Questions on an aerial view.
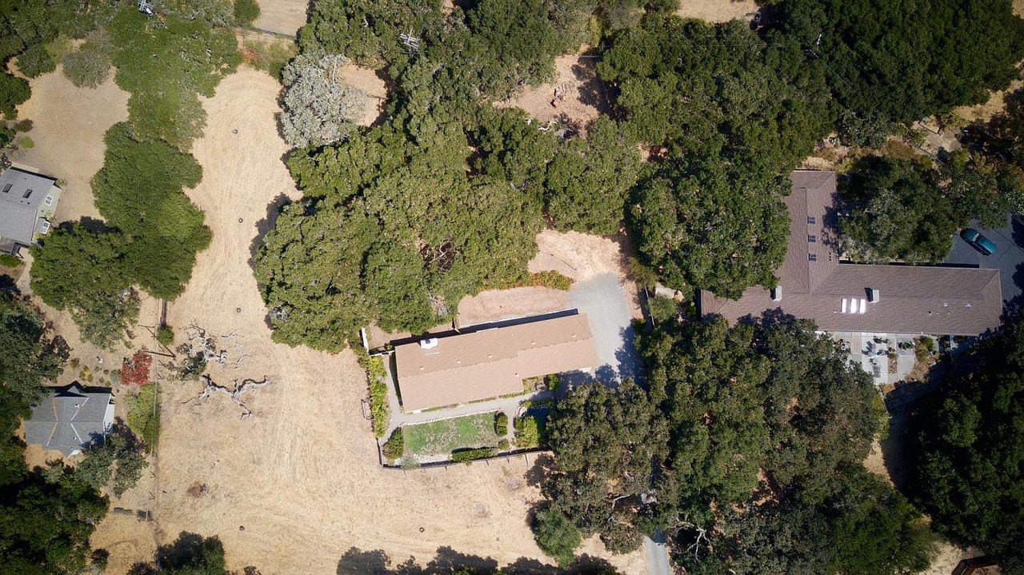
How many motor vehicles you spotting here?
1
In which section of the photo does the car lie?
right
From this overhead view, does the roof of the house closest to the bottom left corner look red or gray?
gray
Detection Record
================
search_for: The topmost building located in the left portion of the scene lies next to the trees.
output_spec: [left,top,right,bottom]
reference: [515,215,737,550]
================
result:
[0,164,68,256]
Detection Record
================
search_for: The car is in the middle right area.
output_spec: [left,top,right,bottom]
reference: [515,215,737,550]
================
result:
[962,228,1002,257]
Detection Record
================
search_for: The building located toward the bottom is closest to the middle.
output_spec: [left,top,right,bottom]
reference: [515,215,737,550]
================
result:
[395,312,597,413]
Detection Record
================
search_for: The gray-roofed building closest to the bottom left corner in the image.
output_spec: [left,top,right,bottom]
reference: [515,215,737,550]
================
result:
[26,388,120,459]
